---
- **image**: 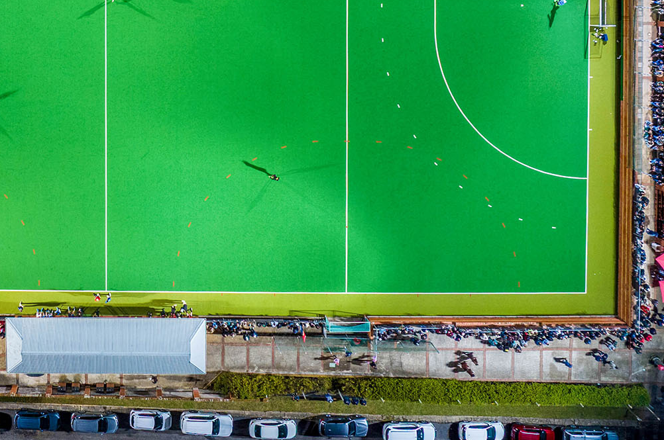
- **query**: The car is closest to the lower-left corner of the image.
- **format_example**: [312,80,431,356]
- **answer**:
[14,406,61,434]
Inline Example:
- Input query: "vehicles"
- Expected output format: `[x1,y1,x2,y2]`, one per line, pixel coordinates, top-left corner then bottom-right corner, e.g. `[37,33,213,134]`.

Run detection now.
[560,425,620,440]
[382,419,437,440]
[181,411,233,439]
[71,410,119,435]
[457,419,504,440]
[317,412,369,440]
[508,421,556,440]
[14,406,61,434]
[248,416,297,440]
[130,406,172,433]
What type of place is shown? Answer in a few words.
sports ground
